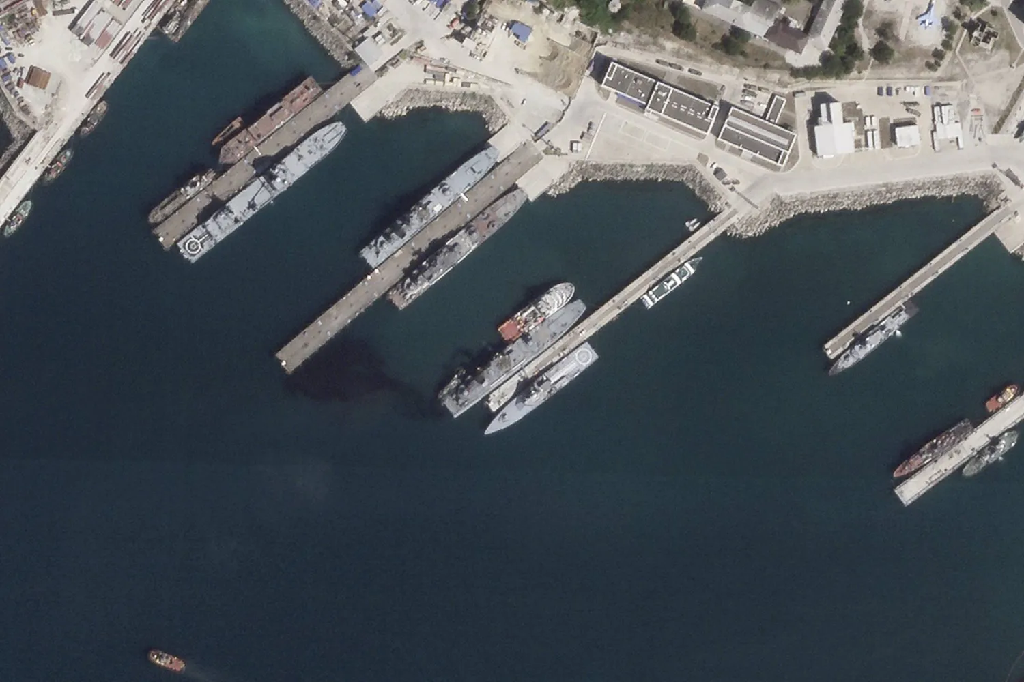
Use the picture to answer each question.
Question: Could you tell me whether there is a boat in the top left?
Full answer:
Yes, a boat appears in the top left.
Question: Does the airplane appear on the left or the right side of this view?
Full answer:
You can find the airplane on the right side of the picture.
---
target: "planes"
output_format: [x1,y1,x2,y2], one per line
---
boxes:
[918,1,938,30]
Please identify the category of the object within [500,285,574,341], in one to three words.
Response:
ship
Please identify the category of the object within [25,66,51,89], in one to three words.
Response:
shed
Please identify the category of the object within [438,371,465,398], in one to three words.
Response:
boat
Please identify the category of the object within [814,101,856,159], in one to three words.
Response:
building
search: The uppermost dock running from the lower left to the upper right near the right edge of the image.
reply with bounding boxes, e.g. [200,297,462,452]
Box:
[824,205,1017,359]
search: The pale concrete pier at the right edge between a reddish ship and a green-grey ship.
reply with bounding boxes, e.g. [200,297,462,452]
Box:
[895,393,1024,506]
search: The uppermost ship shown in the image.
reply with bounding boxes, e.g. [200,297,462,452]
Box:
[157,0,208,40]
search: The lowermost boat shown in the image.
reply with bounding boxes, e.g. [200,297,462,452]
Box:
[148,651,185,673]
